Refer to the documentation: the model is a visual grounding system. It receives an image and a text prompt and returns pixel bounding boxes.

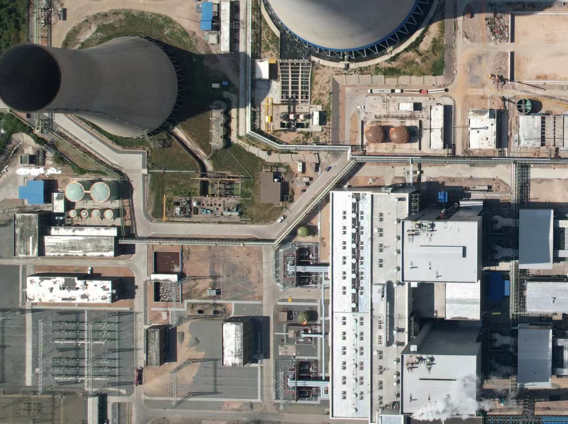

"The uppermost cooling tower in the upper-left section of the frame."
[0,32,188,144]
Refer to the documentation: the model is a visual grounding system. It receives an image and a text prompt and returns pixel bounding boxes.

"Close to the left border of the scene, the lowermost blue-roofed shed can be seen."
[19,180,49,204]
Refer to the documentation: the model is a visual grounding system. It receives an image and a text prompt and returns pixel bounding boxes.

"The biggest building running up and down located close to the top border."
[220,1,234,53]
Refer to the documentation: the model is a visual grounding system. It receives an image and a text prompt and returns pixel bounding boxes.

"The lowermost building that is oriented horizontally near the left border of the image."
[26,273,126,303]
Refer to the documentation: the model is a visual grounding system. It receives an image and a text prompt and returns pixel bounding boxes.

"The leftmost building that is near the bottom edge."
[88,395,102,424]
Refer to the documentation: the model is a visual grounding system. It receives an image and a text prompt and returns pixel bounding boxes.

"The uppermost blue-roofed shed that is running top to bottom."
[201,2,214,31]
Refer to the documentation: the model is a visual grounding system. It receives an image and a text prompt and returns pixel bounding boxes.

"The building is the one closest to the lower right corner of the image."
[515,325,553,389]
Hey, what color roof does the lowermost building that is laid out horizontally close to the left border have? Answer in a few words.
white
